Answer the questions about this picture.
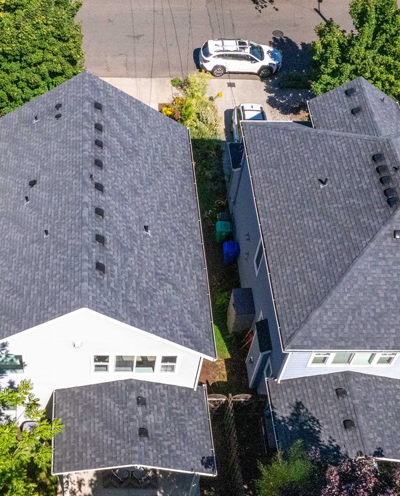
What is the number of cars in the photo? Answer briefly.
two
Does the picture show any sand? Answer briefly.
No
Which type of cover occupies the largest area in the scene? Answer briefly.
buildings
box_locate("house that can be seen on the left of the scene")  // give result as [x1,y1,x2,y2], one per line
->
[0,70,219,496]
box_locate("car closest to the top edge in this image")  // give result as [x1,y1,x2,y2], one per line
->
[200,34,286,76]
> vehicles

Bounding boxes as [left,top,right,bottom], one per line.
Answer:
[229,108,266,152]
[200,34,286,76]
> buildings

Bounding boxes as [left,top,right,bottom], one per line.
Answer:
[0,70,219,496]
[228,75,400,485]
